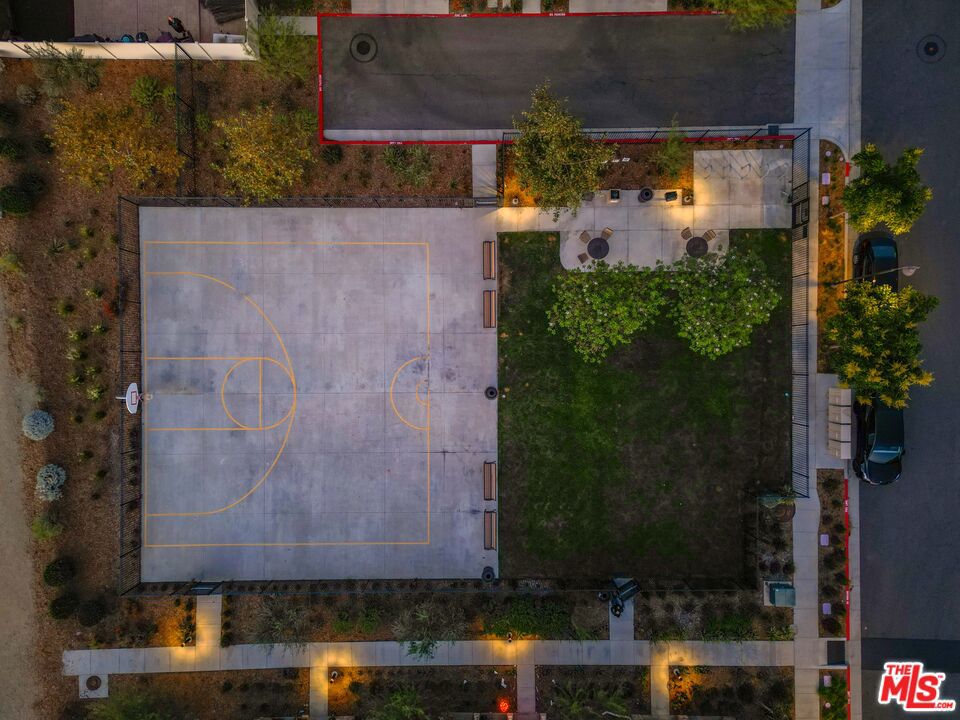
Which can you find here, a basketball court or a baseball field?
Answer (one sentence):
The image shows a basketball court.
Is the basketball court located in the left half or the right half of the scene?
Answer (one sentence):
The basketball court is on the left side of the image.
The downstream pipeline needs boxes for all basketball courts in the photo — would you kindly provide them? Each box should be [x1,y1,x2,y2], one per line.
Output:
[139,206,499,580]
